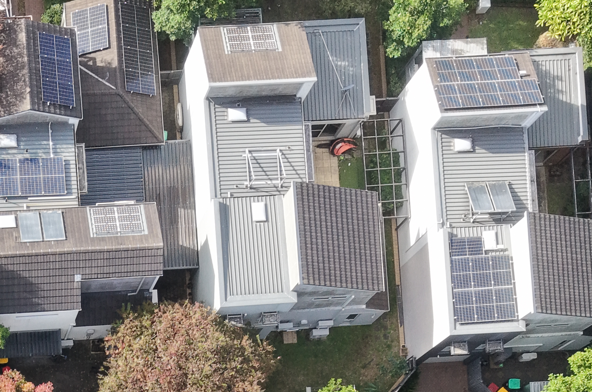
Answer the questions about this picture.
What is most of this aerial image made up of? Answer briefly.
buildings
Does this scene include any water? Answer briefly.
No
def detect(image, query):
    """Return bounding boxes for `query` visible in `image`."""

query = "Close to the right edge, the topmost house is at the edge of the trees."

[385,38,592,362]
